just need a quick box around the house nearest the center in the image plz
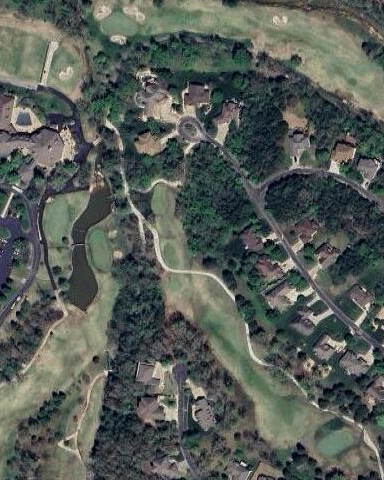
[239,227,265,252]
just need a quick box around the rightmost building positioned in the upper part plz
[356,153,381,179]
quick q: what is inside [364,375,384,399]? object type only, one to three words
house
